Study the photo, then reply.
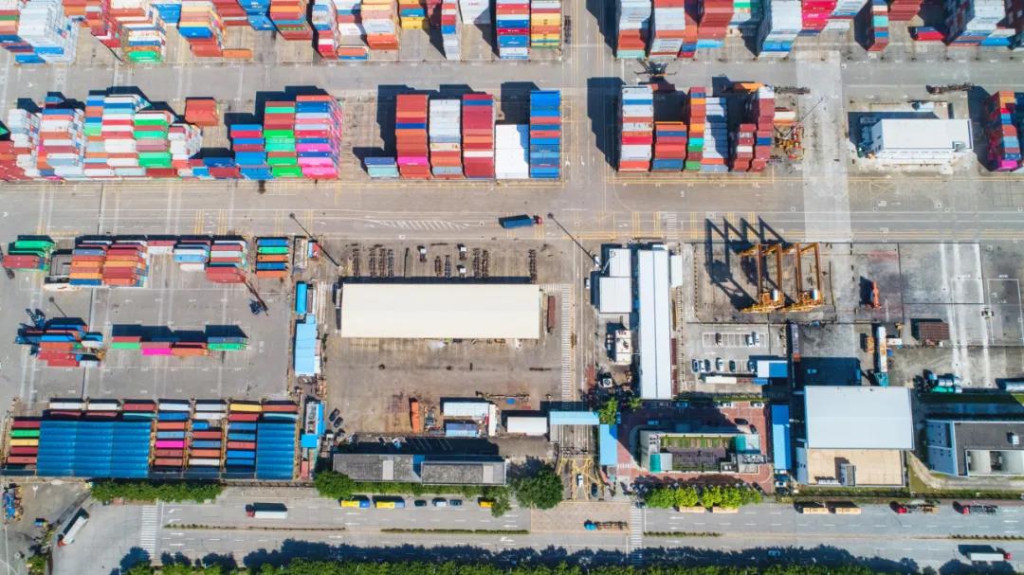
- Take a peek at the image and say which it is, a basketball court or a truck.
truck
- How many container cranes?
two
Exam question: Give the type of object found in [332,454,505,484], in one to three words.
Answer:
building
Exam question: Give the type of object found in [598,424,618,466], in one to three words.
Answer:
building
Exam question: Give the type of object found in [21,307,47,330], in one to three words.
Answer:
work vehicle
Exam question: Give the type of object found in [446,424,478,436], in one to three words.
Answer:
shed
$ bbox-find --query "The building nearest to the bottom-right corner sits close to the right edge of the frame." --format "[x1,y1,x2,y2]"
[925,422,1024,476]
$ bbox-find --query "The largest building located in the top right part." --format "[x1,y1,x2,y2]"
[857,118,972,177]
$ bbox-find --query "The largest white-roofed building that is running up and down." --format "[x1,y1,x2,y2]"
[634,249,673,400]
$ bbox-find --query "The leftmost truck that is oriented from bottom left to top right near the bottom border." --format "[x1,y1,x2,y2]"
[56,513,93,548]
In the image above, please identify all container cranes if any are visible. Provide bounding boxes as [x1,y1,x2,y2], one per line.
[773,238,825,308]
[735,238,784,308]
